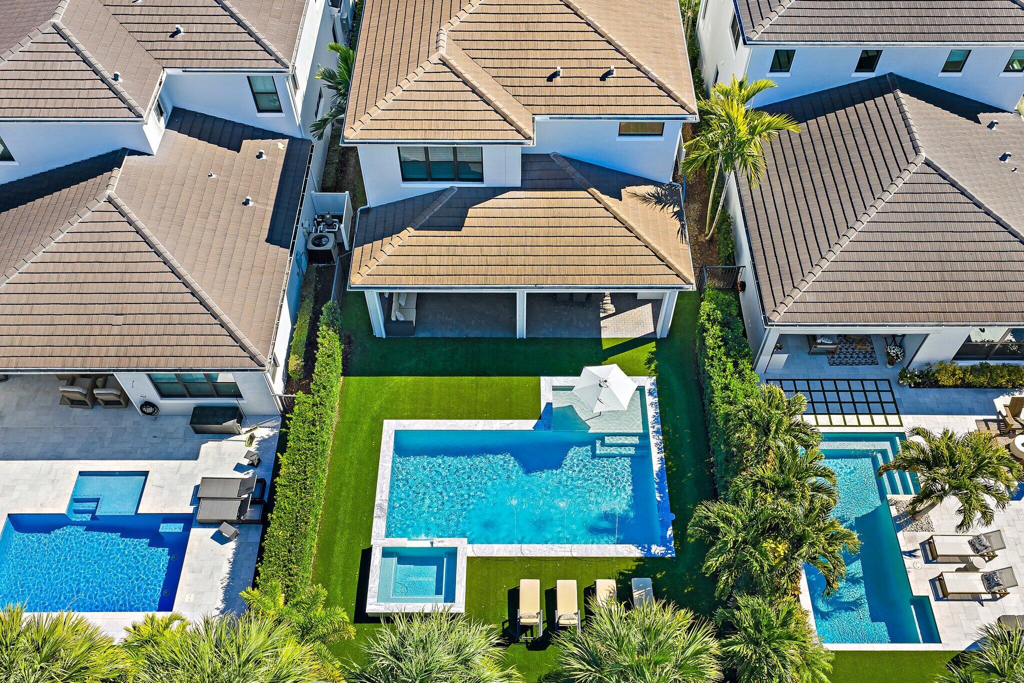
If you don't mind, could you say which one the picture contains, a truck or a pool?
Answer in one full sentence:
Looking from above, you can make out a pool.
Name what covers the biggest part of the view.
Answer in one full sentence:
Most of the picture is covered by buildings.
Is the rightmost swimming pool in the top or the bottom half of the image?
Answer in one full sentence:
Seen from above, the rightmost swimming pool lies in the bottom half of the view.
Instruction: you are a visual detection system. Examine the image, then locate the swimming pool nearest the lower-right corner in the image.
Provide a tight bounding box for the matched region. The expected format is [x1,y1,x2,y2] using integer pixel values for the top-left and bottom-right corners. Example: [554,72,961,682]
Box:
[797,426,951,652]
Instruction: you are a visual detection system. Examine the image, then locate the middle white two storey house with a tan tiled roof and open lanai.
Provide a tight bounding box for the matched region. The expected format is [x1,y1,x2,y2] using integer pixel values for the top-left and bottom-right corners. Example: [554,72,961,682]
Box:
[338,0,702,338]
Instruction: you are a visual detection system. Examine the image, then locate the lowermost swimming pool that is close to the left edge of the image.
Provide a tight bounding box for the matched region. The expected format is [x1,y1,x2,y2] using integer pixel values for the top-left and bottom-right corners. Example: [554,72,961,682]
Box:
[0,463,200,621]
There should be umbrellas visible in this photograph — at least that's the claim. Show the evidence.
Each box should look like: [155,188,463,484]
[570,365,639,418]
